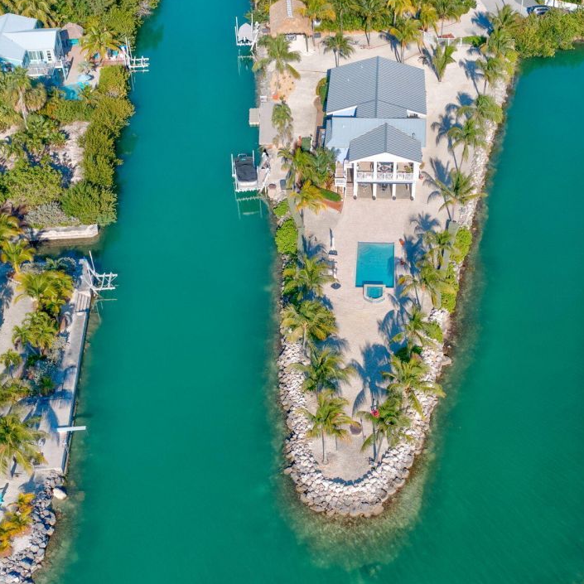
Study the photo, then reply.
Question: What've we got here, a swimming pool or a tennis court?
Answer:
swimming pool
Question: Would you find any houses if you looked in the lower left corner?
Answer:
No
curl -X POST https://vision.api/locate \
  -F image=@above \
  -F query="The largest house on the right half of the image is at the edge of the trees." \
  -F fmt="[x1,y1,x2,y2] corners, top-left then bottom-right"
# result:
[325,55,429,202]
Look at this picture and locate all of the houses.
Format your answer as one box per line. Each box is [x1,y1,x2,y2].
[0,13,71,88]
[325,55,429,202]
